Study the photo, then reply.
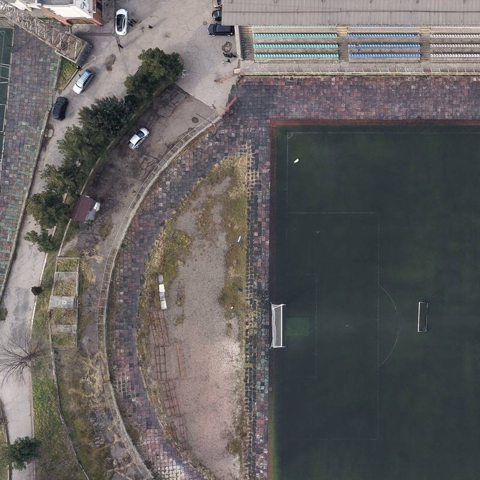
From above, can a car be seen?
Yes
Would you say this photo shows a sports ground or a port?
sports ground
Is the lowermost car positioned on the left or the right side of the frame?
left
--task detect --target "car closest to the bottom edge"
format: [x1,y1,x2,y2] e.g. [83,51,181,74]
[125,125,147,150]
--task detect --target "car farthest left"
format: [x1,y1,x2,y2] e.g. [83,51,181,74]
[50,93,67,120]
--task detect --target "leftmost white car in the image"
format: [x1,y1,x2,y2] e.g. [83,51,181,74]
[71,66,93,93]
